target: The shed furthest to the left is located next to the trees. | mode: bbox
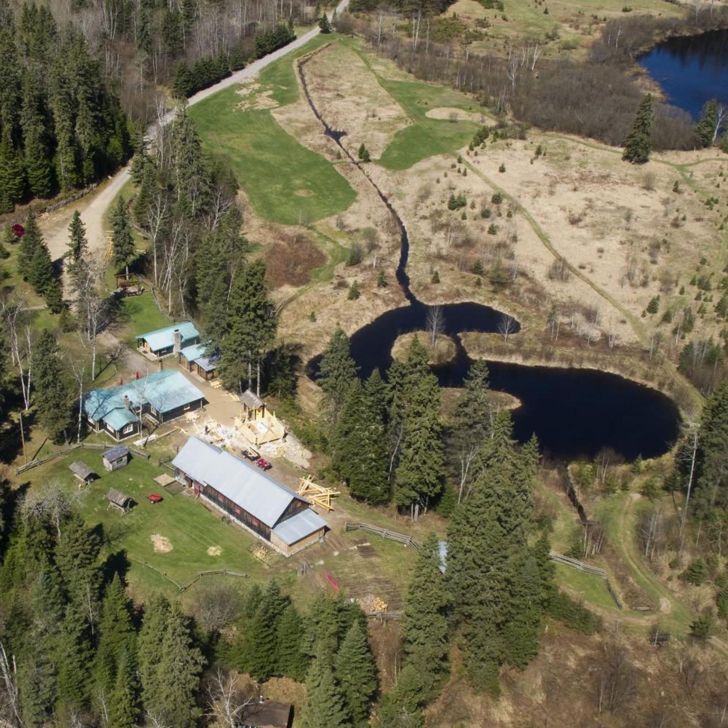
[70,458,97,484]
